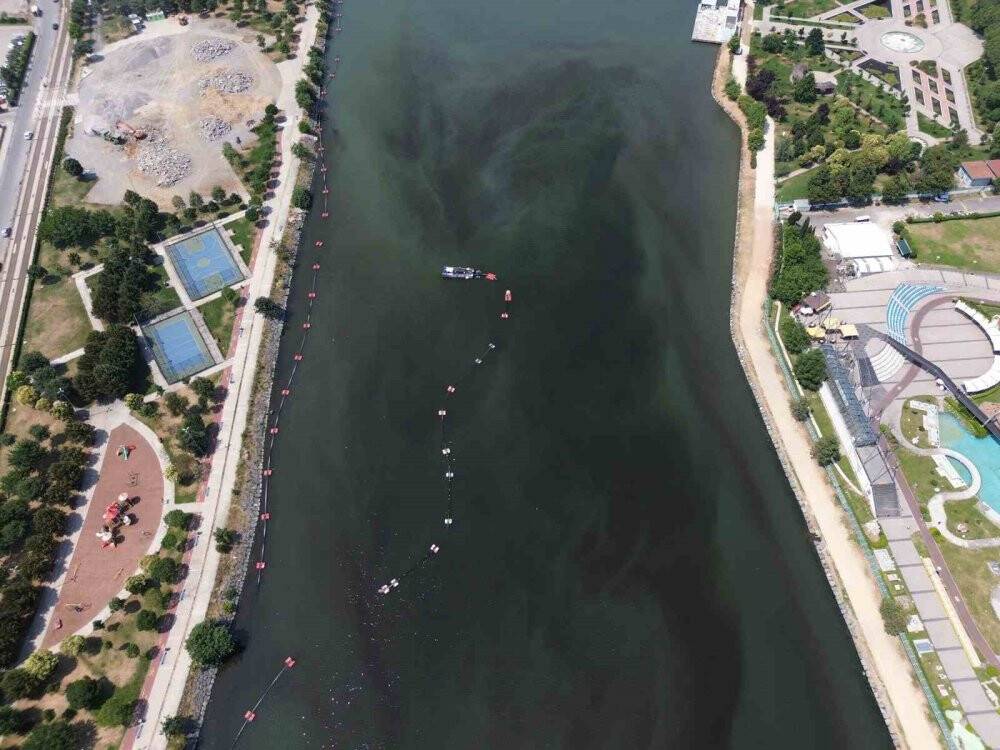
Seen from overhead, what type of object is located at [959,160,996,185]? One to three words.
house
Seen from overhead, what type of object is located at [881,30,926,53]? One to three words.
fountain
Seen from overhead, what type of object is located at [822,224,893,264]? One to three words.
building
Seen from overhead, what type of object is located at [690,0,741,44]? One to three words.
pier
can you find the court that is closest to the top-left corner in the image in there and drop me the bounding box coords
[160,220,244,303]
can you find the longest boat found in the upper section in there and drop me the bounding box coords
[442,263,480,277]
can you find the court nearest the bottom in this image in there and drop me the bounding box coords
[137,302,216,385]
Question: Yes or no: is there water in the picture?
Yes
